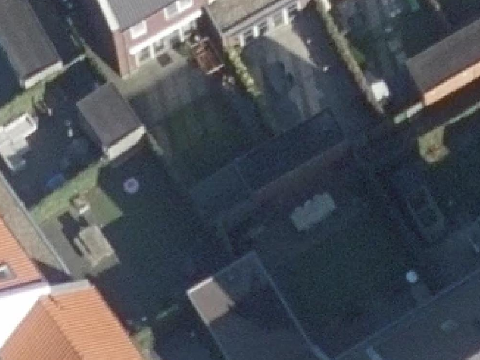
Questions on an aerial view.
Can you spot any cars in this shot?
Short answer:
No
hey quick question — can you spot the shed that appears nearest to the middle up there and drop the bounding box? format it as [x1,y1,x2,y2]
[235,108,346,210]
